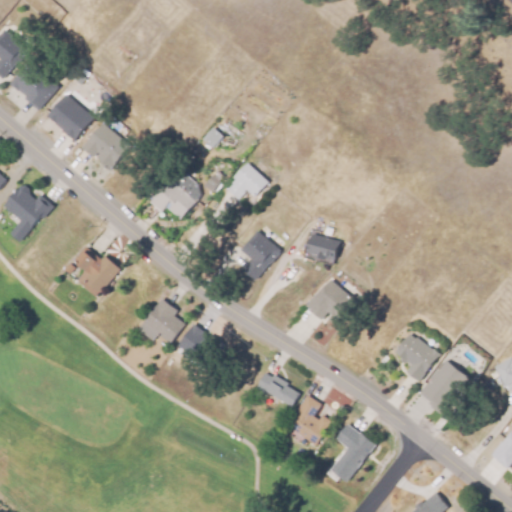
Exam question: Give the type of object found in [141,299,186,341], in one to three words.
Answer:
house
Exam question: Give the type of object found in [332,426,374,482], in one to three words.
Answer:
house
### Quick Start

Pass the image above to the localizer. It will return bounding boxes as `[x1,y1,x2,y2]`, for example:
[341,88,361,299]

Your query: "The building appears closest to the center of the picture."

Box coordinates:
[244,231,283,279]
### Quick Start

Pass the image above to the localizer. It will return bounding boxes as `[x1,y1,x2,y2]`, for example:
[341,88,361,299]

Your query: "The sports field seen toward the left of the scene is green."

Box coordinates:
[0,342,134,447]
